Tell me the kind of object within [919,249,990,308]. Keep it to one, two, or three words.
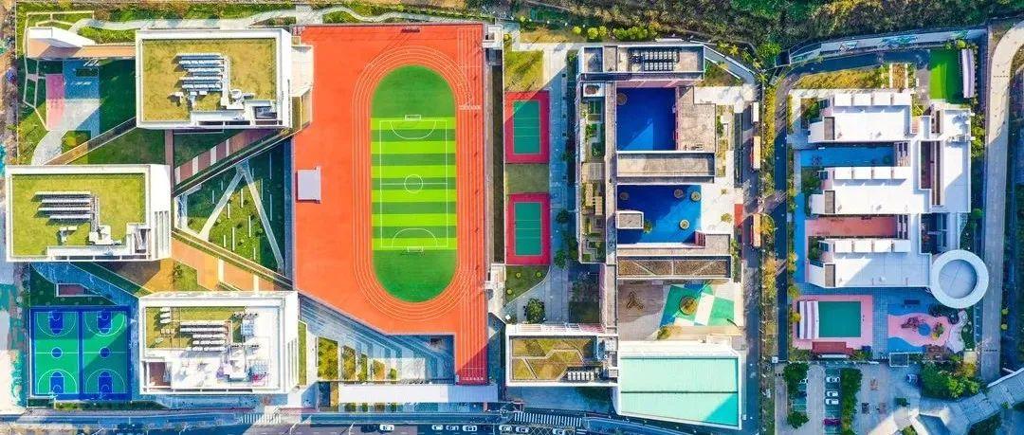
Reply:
building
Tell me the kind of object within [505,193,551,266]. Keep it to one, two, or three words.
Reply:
sports court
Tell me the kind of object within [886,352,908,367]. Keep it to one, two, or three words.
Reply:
shed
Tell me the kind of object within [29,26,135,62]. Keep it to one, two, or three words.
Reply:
building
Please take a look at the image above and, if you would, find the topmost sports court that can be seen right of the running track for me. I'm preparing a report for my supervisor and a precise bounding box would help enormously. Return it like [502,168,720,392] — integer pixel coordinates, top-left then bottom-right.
[505,91,549,164]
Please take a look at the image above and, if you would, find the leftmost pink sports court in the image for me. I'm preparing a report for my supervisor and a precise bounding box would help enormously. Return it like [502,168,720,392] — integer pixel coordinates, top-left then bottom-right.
[46,74,64,131]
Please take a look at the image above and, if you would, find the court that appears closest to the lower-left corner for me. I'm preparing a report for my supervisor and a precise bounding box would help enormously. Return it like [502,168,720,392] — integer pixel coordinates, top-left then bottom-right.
[29,306,132,399]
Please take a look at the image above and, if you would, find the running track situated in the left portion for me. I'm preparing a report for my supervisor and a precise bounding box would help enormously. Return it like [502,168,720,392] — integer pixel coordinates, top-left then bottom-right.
[292,23,491,383]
